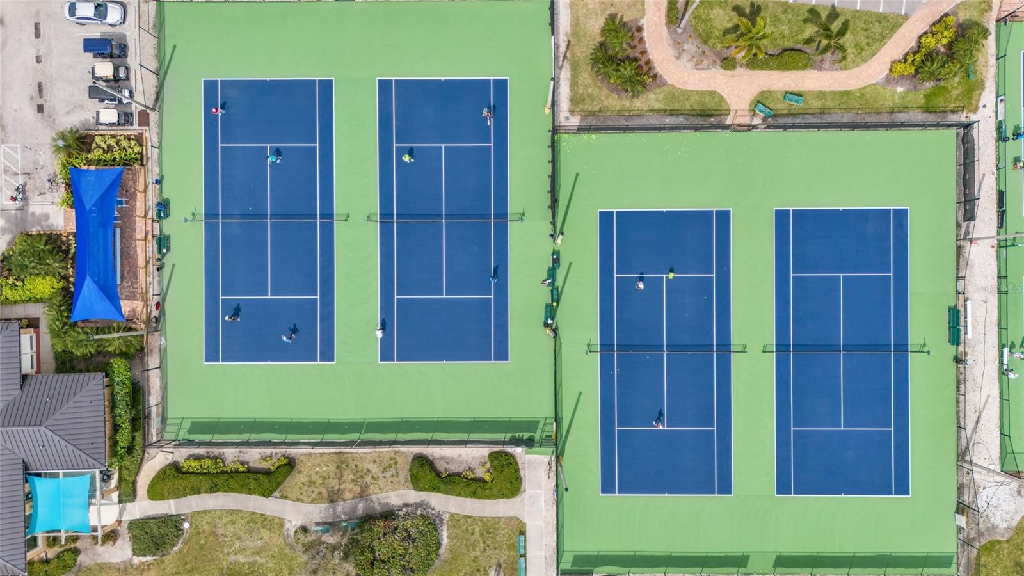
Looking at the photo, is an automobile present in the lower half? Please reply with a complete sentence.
No, no automobile is visible in the lower half.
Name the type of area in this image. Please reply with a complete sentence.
It's a sports ground.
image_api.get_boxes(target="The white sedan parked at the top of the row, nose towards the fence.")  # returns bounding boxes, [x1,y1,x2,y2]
[64,1,127,30]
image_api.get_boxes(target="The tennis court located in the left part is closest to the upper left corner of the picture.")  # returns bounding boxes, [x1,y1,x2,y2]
[203,78,334,363]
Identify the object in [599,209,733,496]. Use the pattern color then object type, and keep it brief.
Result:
blue tennis court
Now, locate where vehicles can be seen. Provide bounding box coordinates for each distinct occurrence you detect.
[91,62,130,83]
[96,109,134,129]
[89,85,134,105]
[84,38,129,60]
[64,1,127,30]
